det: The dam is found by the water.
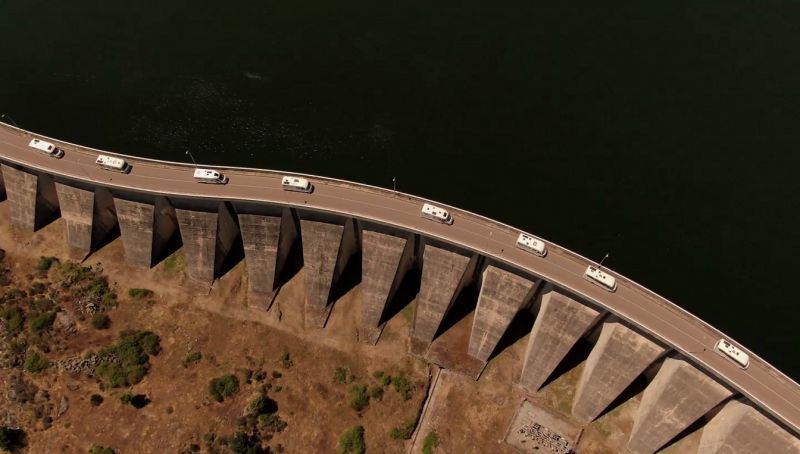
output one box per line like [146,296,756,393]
[0,120,800,454]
